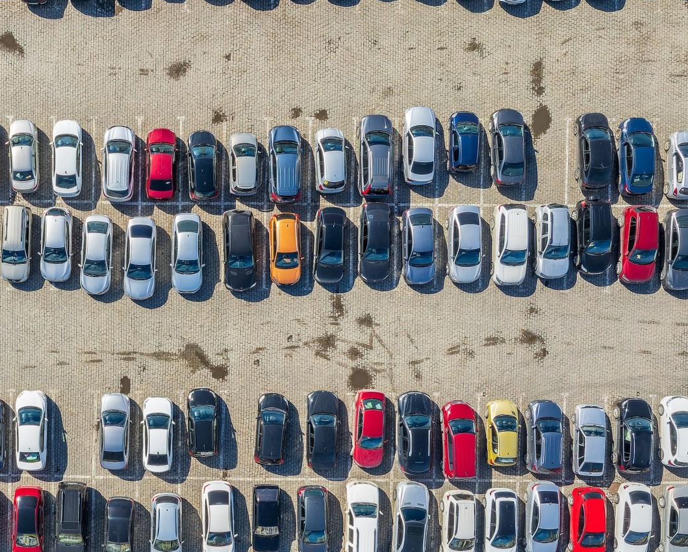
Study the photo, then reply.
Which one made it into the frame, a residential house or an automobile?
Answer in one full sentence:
This aerial view contains an automobile.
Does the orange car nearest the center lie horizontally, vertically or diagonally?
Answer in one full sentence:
From this overhead view, the orange car nearest the center appears to run vertically.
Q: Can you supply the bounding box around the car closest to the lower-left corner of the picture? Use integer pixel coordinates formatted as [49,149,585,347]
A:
[11,483,48,552]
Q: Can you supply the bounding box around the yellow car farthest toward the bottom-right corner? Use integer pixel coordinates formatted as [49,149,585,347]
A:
[483,399,523,466]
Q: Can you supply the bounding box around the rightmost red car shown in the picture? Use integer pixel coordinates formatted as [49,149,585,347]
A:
[616,205,662,284]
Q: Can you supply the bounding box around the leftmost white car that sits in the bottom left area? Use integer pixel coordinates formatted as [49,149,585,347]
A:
[12,390,50,471]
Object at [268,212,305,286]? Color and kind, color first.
orange car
